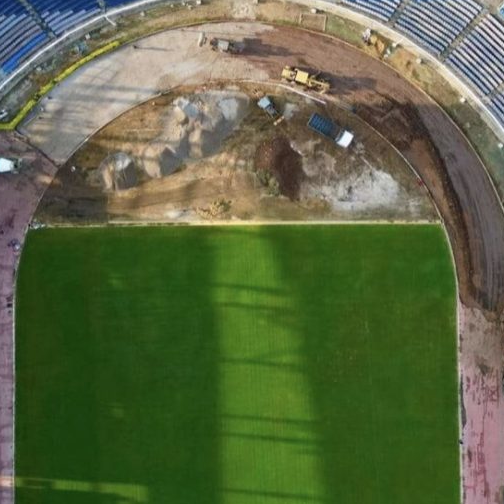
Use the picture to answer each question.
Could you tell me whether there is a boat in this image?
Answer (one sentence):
No, there isn't any boat down there.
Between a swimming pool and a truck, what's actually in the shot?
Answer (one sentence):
This aerial view contains a truck.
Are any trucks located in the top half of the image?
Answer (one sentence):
Yes, a truck appears in the top half of the image.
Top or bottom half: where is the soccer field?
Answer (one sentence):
It is in the bottom half that the soccer field appears.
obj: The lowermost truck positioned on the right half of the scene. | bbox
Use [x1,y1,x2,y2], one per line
[306,112,355,149]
